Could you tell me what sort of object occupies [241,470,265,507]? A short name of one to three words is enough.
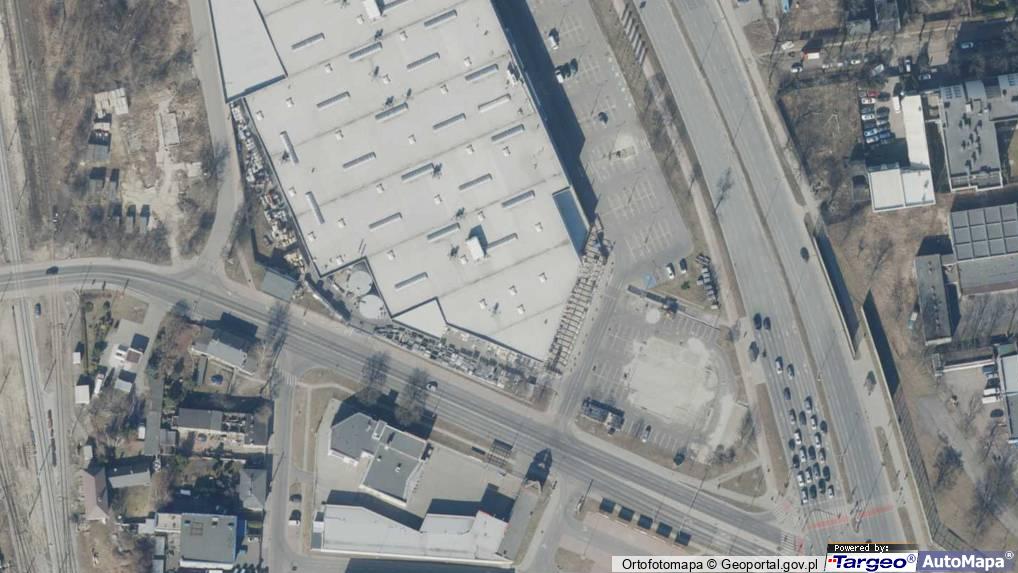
house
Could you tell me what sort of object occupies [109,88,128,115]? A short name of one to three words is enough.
shed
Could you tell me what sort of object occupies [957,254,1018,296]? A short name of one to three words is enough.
building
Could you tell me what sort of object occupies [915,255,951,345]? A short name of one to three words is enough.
building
